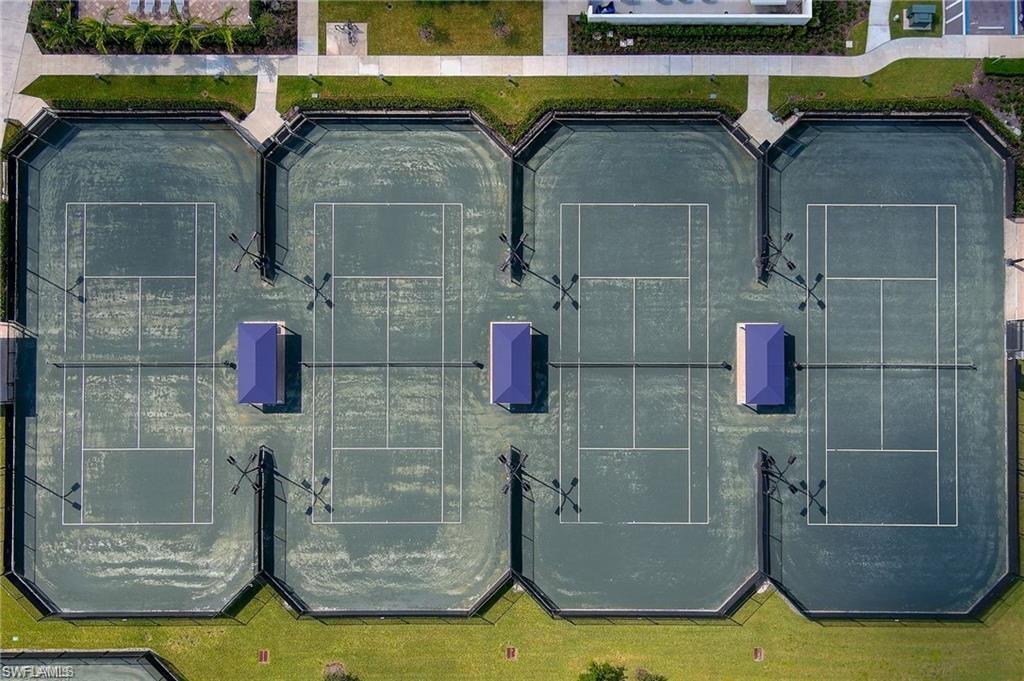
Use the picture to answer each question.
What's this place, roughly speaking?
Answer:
sports ground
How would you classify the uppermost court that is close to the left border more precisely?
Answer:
tennis court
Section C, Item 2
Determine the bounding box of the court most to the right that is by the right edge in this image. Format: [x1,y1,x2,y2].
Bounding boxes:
[757,118,1008,611]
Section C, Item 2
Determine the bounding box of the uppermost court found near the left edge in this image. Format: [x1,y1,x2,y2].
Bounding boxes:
[13,118,263,612]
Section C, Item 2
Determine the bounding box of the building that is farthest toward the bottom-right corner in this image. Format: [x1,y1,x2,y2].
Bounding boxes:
[737,322,784,404]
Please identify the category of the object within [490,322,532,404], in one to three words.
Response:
building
